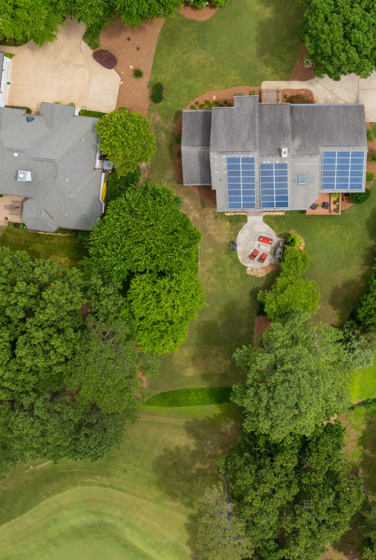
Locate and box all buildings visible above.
[0,51,105,233]
[181,95,367,213]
